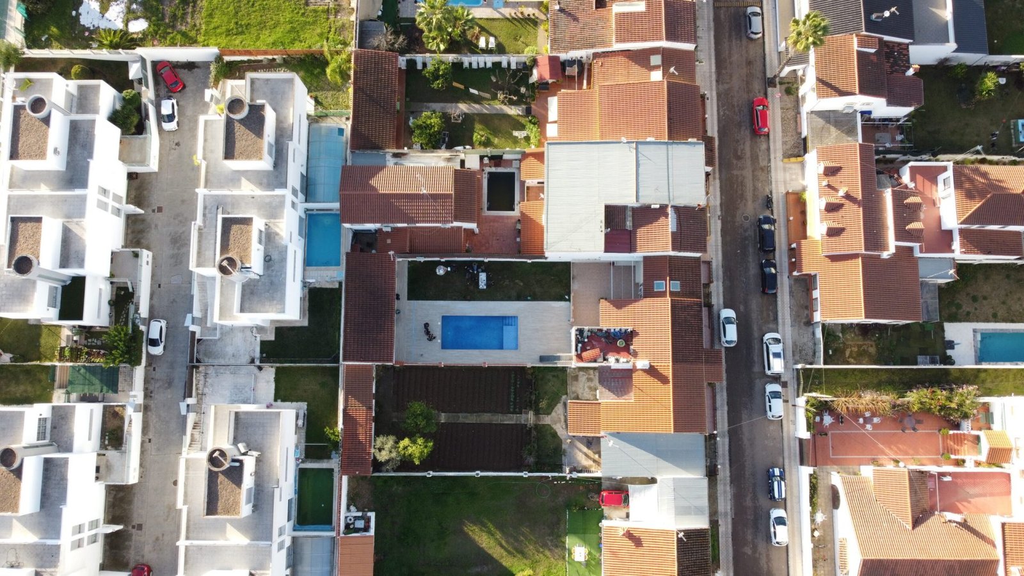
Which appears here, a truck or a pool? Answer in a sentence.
This aerial view contains a pool.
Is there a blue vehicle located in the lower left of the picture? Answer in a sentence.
No, I see no blue vehicle in the lower left of the picture.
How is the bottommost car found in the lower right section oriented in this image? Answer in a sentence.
I'd say the bottommost car found in the lower right section is aligned up and down in the picture.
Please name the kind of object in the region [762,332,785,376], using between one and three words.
car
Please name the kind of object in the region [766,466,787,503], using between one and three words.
car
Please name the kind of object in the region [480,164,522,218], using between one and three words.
swimming pool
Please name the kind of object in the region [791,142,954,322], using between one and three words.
house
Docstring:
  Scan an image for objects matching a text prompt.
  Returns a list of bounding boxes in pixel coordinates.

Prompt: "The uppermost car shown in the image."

[744,8,764,40]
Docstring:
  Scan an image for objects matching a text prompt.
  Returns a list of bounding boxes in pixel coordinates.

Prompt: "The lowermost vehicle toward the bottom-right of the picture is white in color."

[767,505,789,548]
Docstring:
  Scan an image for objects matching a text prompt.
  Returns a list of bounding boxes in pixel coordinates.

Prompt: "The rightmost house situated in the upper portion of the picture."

[889,161,1024,259]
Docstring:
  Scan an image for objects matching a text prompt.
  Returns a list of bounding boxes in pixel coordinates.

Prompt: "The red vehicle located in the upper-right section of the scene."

[750,98,771,135]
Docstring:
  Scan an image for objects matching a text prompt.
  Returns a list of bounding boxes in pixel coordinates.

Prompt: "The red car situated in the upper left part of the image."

[158,61,185,94]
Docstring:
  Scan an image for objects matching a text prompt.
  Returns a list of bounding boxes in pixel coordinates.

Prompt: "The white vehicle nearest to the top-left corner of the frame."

[159,97,180,131]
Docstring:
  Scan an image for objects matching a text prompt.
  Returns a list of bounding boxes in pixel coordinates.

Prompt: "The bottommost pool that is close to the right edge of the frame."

[969,327,1024,365]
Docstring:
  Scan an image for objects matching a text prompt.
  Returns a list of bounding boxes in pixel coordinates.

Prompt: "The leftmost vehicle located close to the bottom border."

[130,556,153,576]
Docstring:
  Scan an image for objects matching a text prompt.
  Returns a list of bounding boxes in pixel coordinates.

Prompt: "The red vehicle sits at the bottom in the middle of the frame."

[597,489,630,509]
